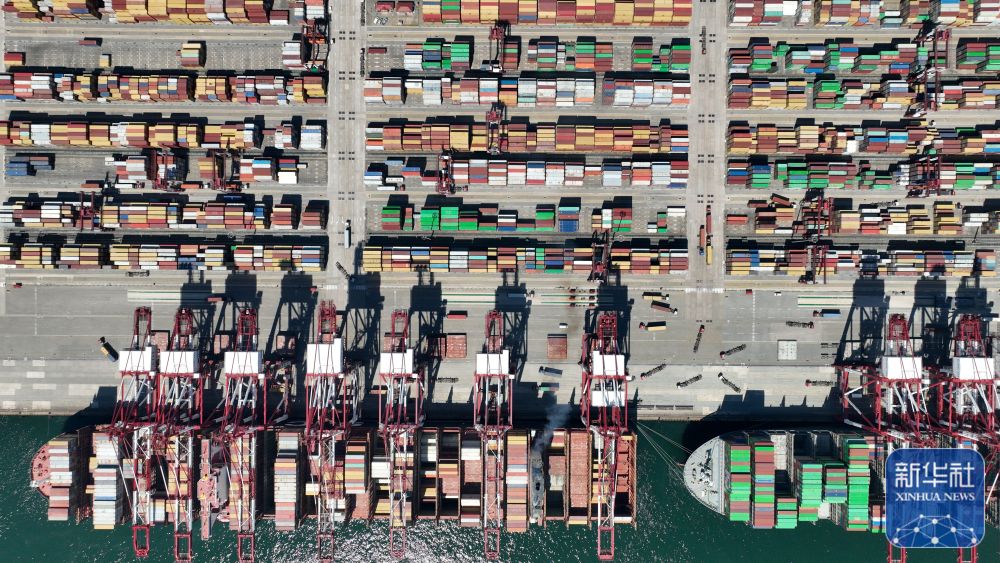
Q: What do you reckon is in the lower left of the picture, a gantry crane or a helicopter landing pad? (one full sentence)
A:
Looking in the lower left of the picture, you will find a gantry crane.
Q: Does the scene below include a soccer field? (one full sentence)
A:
No, this view has no soccer field in it.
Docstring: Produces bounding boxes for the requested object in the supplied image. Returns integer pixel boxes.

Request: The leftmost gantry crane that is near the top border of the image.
[304,20,329,73]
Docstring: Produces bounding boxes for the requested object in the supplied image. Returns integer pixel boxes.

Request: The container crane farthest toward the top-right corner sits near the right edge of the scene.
[911,25,951,78]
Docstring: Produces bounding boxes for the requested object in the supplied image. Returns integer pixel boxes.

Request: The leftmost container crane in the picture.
[79,185,118,230]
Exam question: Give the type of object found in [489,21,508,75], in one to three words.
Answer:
container crane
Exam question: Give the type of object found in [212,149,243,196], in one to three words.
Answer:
container crane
